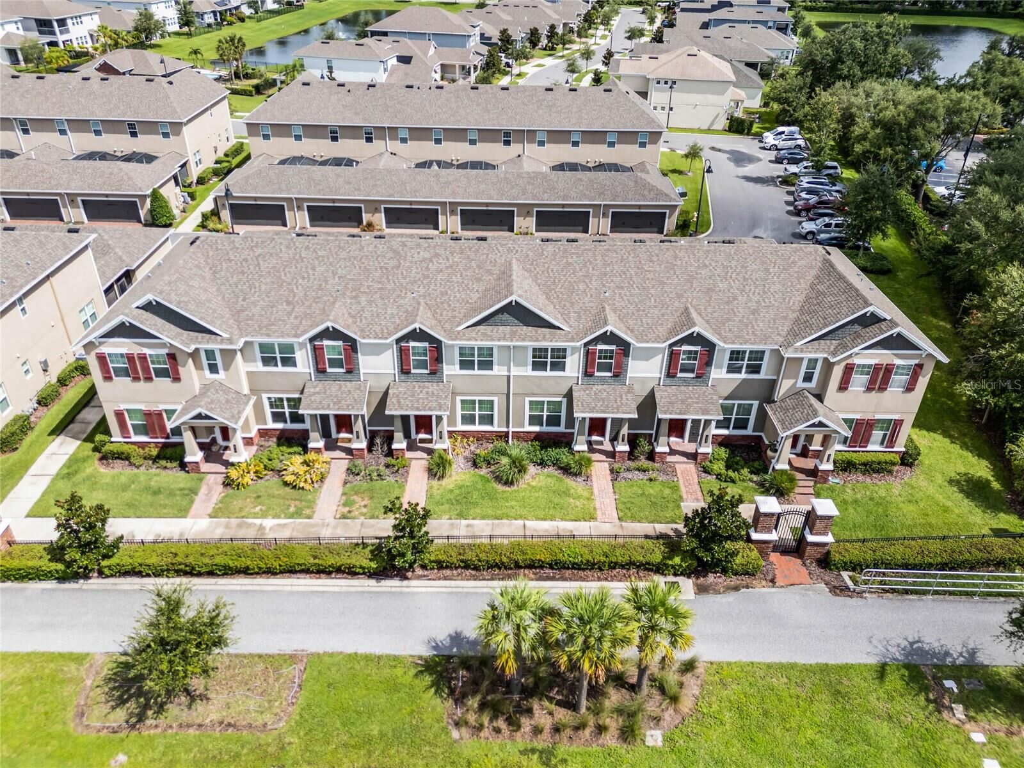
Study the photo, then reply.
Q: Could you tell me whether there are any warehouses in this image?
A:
No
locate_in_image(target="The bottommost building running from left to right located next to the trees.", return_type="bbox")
[63,225,954,481]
